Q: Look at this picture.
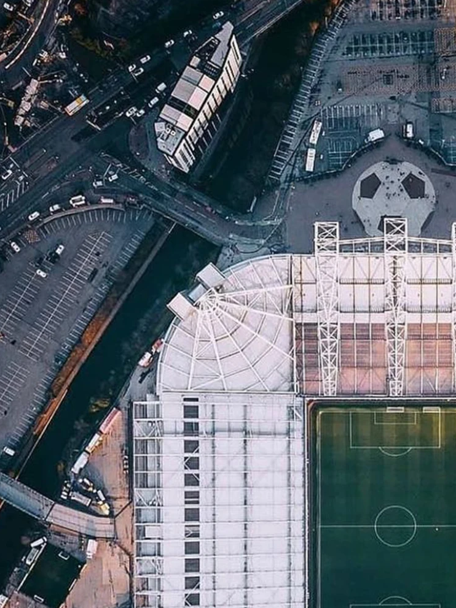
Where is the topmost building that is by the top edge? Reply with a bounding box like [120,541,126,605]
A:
[154,20,242,175]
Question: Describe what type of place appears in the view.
sports ground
